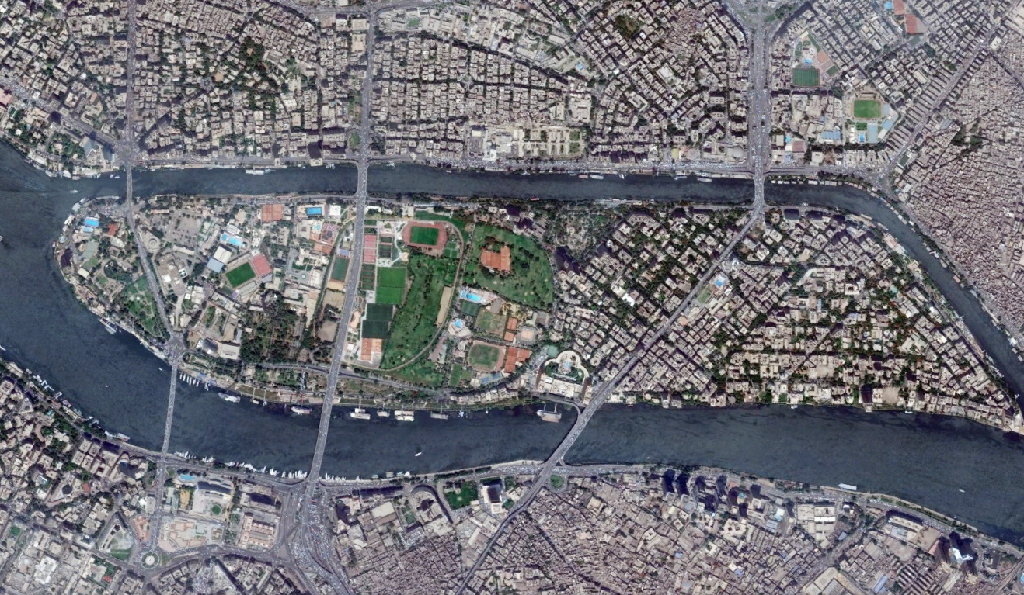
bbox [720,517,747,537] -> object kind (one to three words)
building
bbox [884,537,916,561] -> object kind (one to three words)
shed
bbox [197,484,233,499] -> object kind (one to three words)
building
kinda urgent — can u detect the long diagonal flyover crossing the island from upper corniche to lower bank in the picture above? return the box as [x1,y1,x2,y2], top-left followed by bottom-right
[456,116,764,595]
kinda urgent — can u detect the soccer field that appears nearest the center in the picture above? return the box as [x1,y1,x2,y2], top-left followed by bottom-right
[476,308,506,337]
